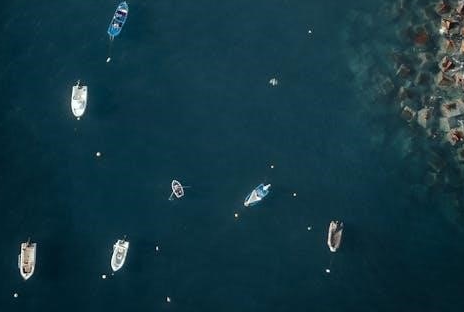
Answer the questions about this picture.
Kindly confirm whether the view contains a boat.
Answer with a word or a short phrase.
Yes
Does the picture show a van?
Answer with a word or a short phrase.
No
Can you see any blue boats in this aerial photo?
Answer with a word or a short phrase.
Yes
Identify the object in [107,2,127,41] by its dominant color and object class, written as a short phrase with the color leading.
blue boat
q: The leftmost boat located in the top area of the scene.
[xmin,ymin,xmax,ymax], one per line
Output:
[71,80,88,117]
